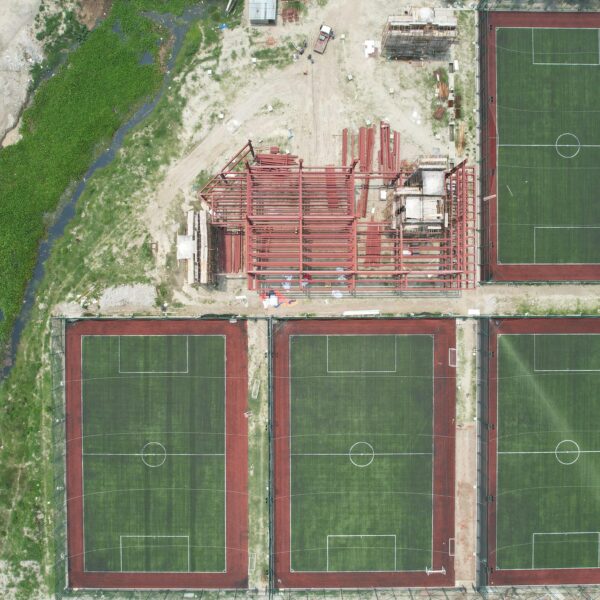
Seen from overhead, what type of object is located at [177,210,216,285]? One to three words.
building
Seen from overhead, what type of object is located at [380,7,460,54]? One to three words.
building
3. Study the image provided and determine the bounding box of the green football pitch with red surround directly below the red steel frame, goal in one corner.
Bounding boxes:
[272,318,456,588]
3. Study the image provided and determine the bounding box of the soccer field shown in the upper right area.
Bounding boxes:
[480,11,600,282]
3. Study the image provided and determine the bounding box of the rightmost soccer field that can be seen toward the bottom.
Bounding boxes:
[480,318,600,587]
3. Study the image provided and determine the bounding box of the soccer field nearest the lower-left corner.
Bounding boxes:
[66,319,250,589]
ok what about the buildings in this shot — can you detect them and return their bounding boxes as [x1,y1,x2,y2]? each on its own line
[249,0,277,25]
[380,7,460,54]
[200,140,476,298]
